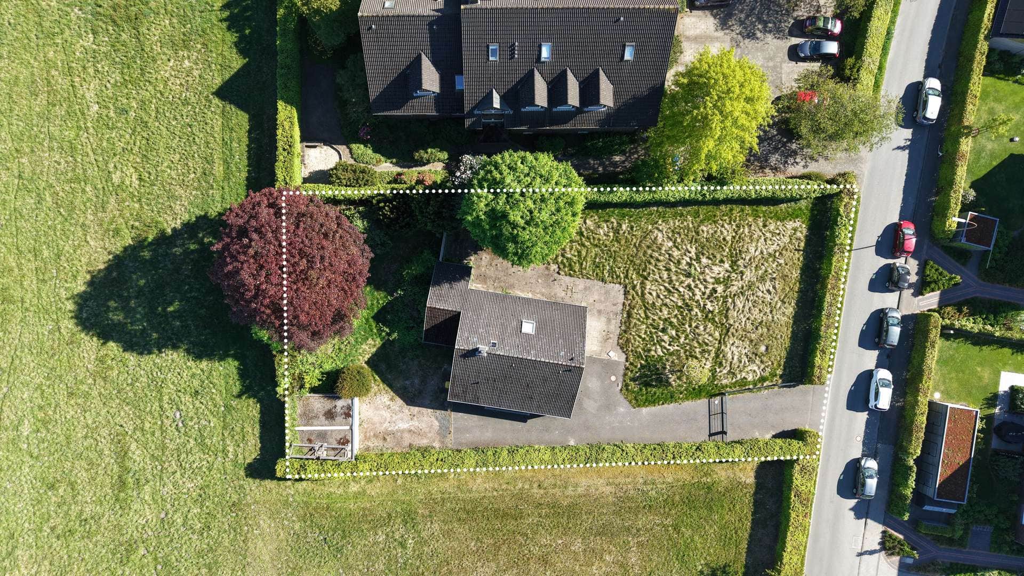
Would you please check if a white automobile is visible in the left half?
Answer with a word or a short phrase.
No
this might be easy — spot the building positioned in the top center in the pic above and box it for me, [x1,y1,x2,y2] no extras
[357,0,680,157]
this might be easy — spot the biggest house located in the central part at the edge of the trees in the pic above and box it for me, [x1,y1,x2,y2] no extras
[423,260,590,419]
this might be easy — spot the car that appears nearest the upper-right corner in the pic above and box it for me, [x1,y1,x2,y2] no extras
[913,79,944,125]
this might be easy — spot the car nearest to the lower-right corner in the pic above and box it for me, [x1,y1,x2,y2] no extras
[851,456,880,501]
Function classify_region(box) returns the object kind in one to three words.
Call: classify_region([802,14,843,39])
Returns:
car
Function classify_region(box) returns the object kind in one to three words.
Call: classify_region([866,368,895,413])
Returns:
car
